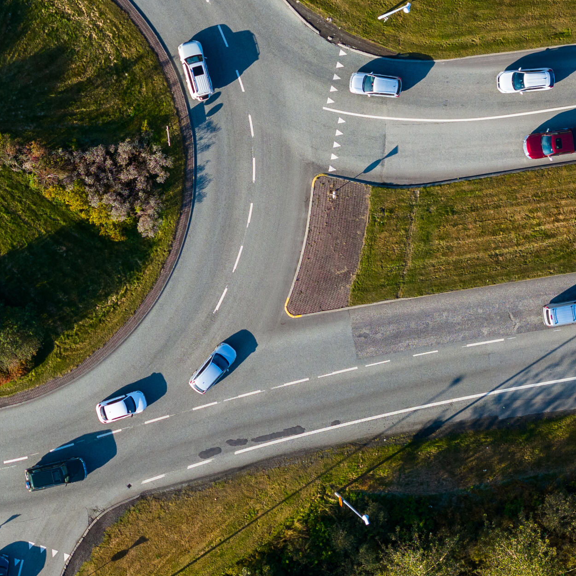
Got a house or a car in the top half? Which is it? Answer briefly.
car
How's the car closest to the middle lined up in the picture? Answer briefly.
at an angle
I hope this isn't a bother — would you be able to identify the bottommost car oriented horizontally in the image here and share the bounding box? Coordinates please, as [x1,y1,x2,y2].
[26,459,87,491]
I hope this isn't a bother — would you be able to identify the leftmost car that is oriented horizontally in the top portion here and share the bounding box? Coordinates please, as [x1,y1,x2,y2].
[348,70,404,98]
